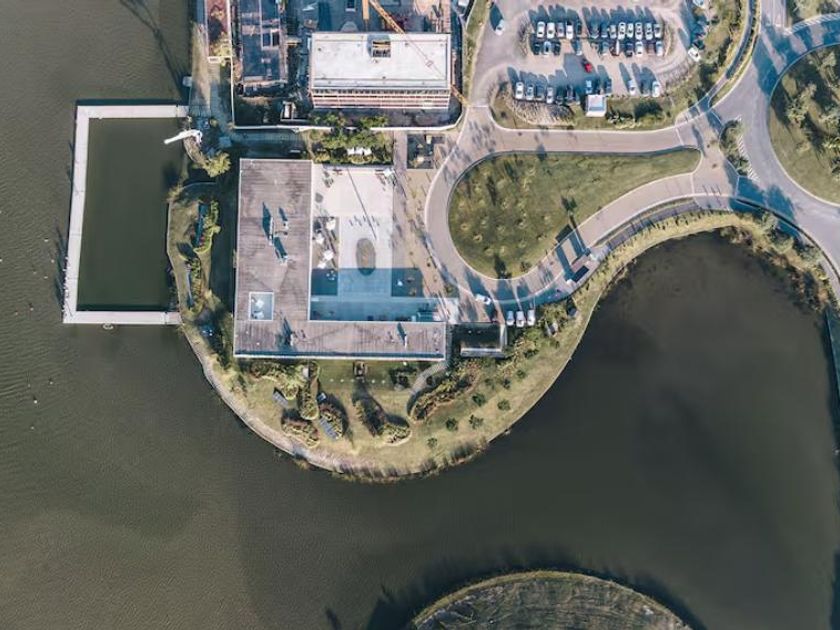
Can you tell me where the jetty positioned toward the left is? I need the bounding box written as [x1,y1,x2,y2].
[64,104,189,323]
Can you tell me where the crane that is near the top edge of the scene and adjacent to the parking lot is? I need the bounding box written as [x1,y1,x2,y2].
[359,0,470,105]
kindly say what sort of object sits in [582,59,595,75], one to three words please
vehicle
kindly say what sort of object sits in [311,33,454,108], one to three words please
building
